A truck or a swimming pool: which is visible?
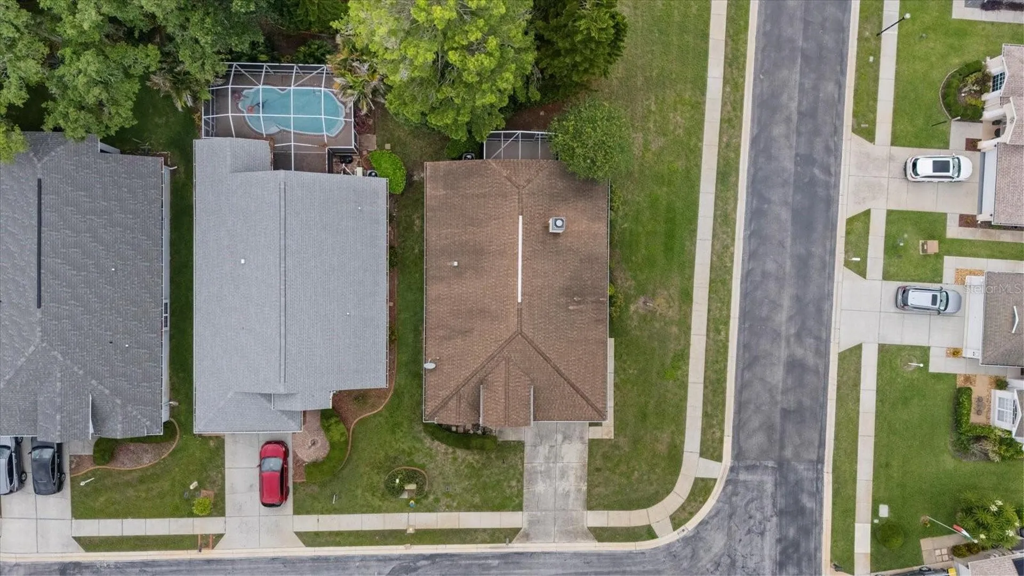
swimming pool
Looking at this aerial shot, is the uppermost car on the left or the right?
right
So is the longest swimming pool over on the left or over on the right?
left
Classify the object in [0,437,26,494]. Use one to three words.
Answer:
car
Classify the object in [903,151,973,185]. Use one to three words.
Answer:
car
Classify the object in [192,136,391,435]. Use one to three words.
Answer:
house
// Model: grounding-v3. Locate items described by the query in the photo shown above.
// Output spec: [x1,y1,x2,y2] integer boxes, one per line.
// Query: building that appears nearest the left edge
[0,131,178,443]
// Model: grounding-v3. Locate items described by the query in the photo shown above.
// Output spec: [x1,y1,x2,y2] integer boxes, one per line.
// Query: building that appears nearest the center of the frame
[423,158,610,427]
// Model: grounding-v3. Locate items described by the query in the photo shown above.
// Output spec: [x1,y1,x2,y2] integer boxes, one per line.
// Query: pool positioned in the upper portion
[238,84,346,137]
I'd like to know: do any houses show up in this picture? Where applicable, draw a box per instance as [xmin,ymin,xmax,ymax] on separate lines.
[956,545,1024,576]
[0,131,178,443]
[963,269,1024,438]
[423,158,610,427]
[977,42,1024,228]
[192,136,391,435]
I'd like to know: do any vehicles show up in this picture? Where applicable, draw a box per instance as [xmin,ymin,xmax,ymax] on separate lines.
[0,437,26,494]
[28,437,66,495]
[893,284,962,318]
[255,441,290,505]
[903,151,973,185]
